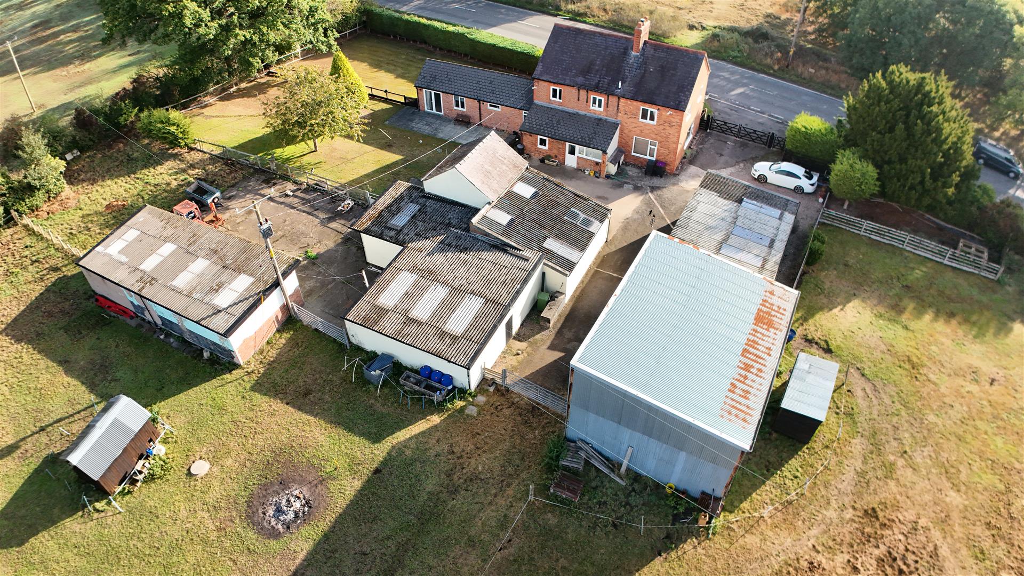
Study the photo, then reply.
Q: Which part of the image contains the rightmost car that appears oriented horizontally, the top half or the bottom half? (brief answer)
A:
top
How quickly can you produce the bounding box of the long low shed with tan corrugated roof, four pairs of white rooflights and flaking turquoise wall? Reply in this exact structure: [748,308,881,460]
[69,201,302,364]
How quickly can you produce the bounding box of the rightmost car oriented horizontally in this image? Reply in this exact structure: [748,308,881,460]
[751,162,822,194]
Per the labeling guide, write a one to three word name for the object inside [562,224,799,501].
barn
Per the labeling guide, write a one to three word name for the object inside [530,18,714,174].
house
